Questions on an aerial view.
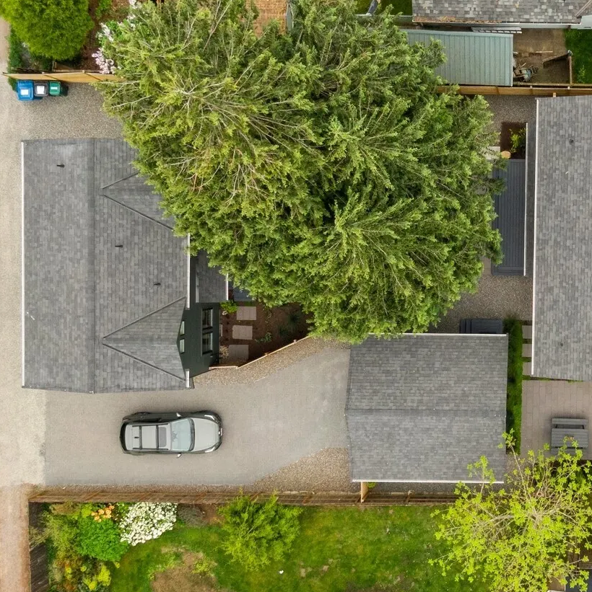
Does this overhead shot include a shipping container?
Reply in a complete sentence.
No, I find no shipping container anywhere in the image.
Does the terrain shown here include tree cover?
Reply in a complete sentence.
Yes, there is tree cover in the image.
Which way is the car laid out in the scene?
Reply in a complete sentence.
In this picture, the car is oriented from left to right.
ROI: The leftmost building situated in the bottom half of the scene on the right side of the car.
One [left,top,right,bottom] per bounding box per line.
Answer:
[346,332,507,484]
